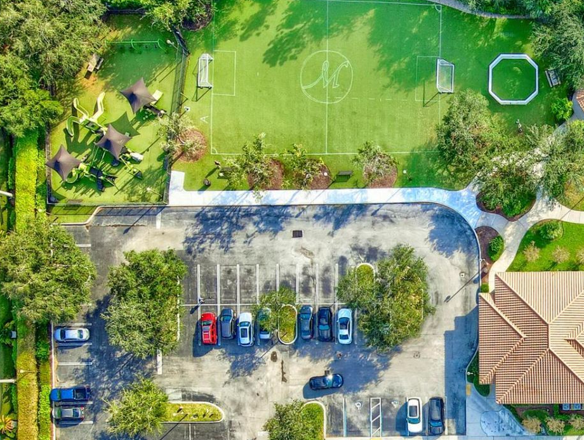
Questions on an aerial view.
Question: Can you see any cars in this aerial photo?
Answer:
Yes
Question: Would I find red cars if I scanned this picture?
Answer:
Yes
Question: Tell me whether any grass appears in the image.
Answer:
Yes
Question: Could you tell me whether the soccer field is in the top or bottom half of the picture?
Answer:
top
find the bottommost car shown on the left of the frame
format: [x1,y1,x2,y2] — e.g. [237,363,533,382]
[50,406,82,421]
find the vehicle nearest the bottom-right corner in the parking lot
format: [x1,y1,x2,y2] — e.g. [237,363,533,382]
[426,397,442,434]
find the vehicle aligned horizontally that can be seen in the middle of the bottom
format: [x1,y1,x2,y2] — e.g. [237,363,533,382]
[307,372,343,390]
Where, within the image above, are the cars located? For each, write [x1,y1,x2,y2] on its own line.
[404,397,421,434]
[307,372,343,390]
[215,307,233,340]
[296,304,313,338]
[50,406,82,421]
[233,312,252,346]
[253,306,271,340]
[52,325,87,341]
[196,313,214,344]
[334,308,351,342]
[314,306,331,340]
[426,397,442,434]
